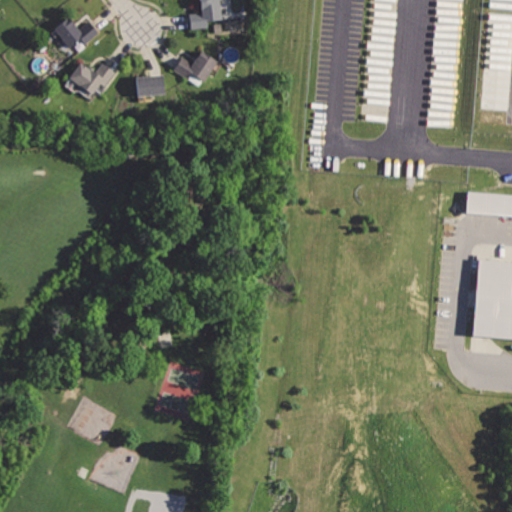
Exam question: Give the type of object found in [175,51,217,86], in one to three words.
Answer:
house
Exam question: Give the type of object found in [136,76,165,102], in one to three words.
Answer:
house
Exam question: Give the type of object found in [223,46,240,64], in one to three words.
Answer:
swimming pool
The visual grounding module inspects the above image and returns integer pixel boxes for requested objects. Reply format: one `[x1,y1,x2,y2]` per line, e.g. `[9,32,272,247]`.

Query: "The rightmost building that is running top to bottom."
[474,260,512,340]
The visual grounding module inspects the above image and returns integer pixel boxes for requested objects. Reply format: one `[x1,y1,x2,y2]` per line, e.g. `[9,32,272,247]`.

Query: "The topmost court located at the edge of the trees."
[156,362,200,419]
